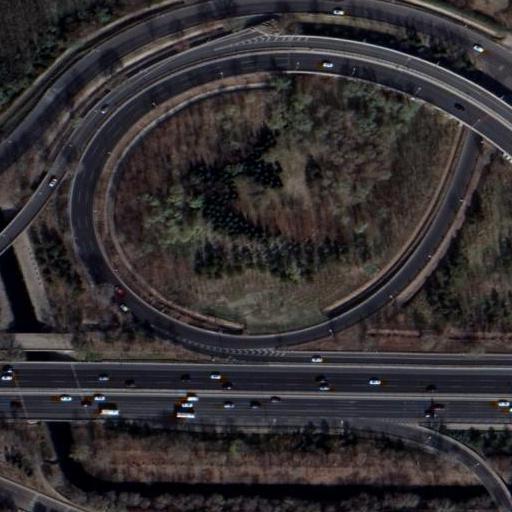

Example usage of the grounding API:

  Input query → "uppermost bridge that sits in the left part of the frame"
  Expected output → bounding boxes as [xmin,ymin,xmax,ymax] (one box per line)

[0,170,54,252]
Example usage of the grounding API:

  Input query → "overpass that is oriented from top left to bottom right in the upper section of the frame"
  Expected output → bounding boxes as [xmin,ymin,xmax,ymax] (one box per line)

[429,66,512,159]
